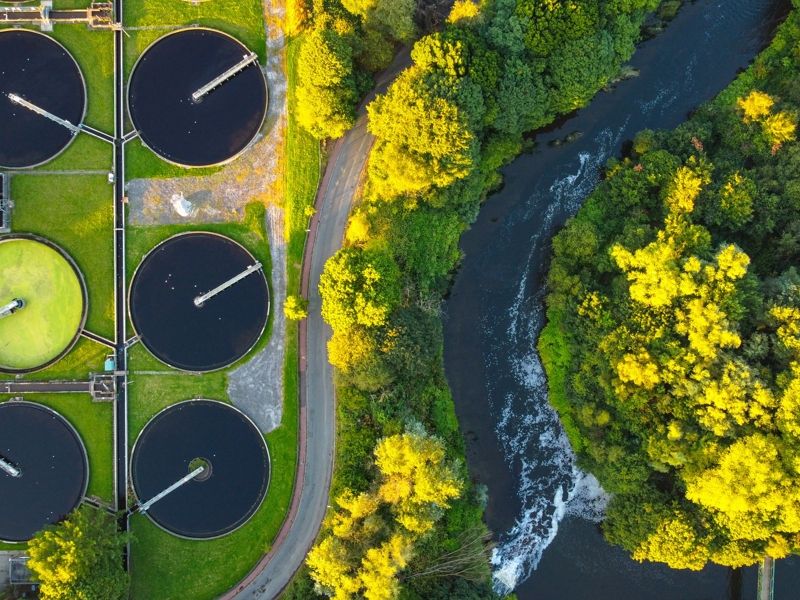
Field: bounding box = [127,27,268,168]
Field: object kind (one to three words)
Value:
storage tank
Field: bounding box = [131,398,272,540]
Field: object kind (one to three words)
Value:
storage tank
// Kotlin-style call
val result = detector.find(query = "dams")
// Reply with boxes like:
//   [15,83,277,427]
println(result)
[497,455,591,600]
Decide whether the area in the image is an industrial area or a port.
industrial area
